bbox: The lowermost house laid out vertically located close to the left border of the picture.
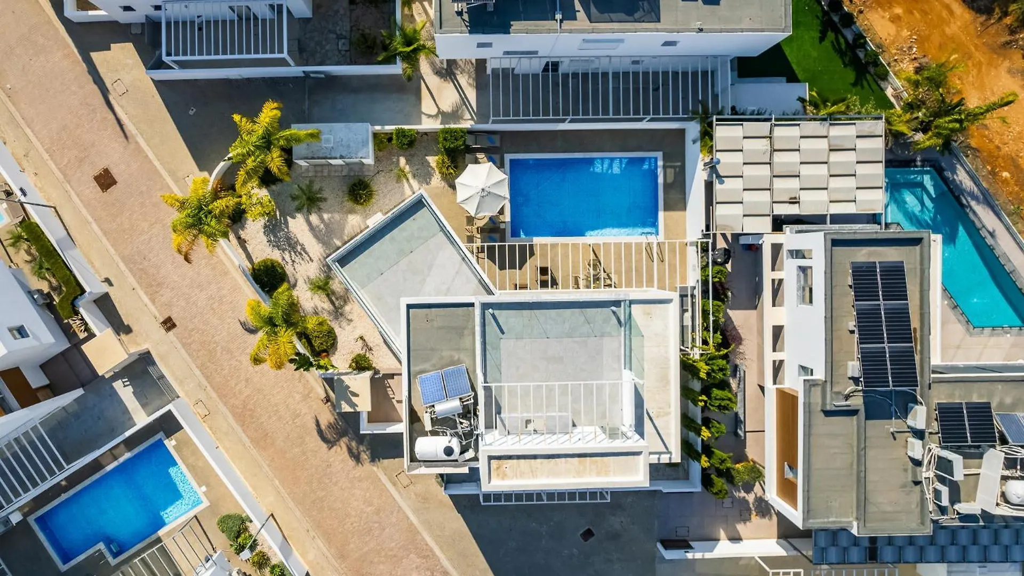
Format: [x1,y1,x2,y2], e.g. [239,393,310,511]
[0,257,69,410]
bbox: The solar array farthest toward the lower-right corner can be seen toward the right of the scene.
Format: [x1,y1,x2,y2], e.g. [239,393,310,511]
[932,402,997,445]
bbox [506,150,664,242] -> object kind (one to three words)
swimming pool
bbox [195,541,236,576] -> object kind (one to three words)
building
